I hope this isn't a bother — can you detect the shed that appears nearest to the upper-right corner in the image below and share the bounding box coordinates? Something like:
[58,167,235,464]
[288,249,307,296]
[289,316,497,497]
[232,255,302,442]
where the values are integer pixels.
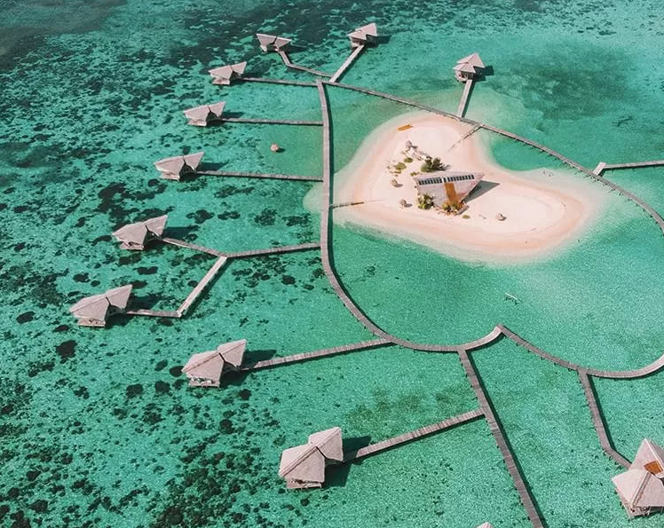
[455,53,484,86]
